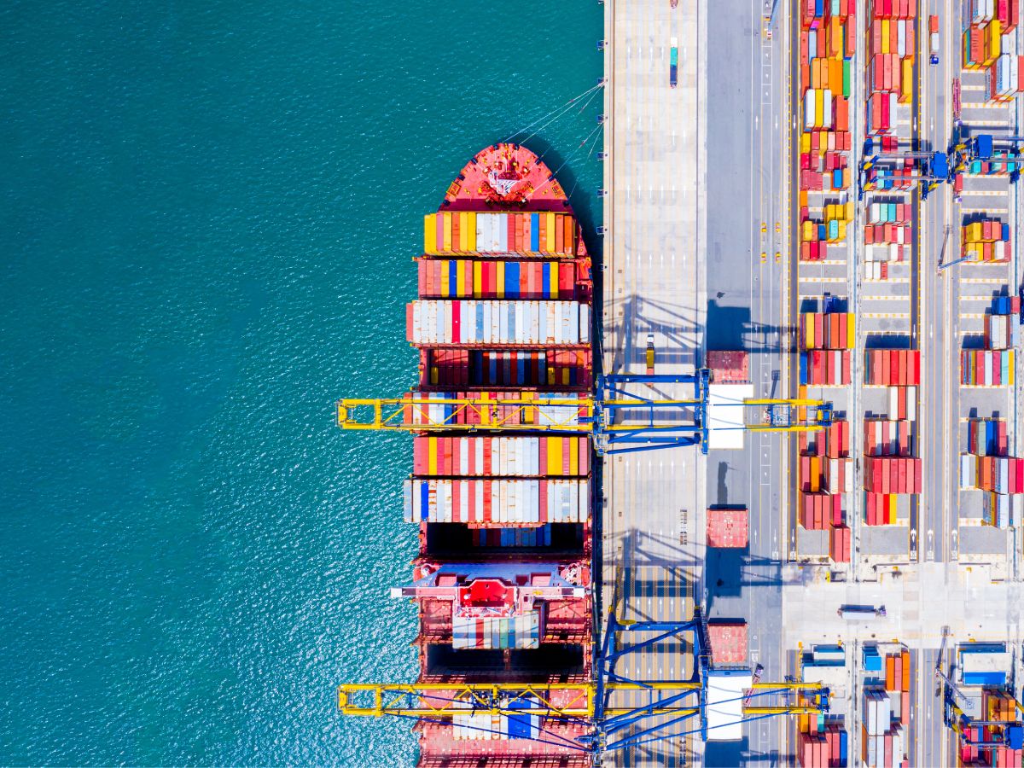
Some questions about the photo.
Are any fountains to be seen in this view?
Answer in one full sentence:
No, I can see no fountain in this picture.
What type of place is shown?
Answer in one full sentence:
It's a port.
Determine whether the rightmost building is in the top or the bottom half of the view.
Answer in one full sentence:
The rightmost building sits in the bottom half of the picture.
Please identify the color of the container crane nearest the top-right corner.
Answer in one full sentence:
From above, the container crane nearest the top-right corner appears blue.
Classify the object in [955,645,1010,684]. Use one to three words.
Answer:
building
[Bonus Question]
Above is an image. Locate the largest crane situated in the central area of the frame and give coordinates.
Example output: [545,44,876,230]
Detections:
[334,364,835,464]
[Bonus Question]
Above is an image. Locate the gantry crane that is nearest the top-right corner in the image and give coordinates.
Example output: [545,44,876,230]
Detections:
[948,134,1024,183]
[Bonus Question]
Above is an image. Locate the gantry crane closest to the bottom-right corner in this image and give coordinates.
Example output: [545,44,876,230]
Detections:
[947,691,1024,749]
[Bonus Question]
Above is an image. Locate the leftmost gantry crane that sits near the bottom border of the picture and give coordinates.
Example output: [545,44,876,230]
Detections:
[334,598,835,753]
